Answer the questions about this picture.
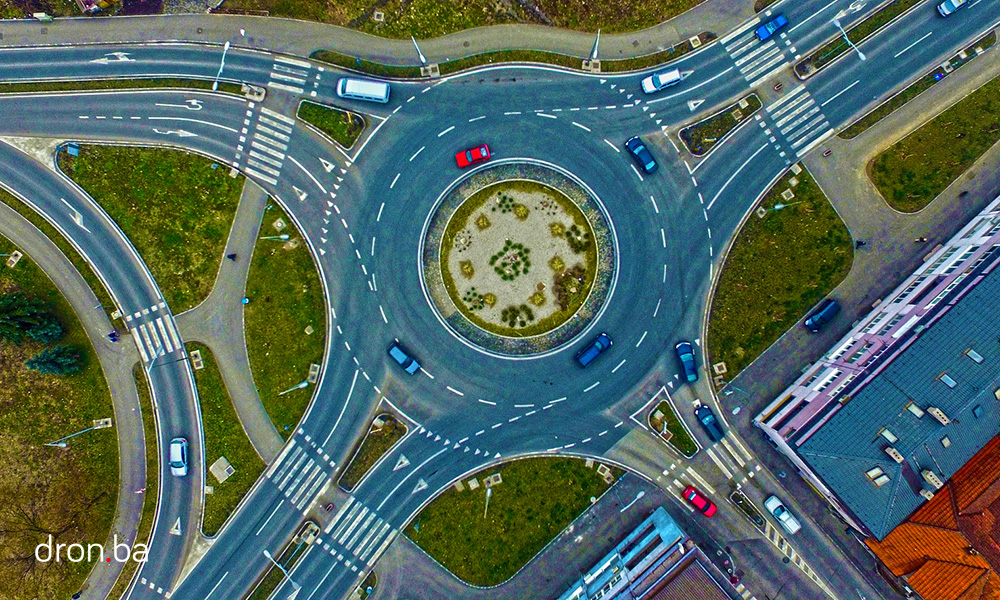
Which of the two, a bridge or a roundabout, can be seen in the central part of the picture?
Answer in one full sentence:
It is a roundabout that can be seen in the central part of the picture.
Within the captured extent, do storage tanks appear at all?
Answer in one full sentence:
No, there appears to be no storage tank in this shot.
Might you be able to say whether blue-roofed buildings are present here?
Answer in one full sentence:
Yes, the image includes a blue-roofed building.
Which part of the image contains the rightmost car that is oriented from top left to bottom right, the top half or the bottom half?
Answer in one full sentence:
You can find the rightmost car that is oriented from top left to bottom right in the bottom half.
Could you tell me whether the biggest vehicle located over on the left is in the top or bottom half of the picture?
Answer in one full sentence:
The top half of the photo is where the biggest vehicle located over on the left is.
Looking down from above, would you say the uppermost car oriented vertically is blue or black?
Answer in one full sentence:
In this view, the uppermost car oriented vertically is blue.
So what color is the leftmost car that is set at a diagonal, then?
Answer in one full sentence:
From above, the leftmost car that is set at a diagonal appears blue.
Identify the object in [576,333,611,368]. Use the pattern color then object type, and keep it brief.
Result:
blue car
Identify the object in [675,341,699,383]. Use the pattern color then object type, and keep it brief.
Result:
blue car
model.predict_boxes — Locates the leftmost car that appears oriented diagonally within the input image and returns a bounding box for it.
[387,342,421,374]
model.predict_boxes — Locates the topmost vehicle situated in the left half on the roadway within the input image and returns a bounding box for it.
[336,76,393,104]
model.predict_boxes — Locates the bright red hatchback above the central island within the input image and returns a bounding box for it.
[456,145,490,168]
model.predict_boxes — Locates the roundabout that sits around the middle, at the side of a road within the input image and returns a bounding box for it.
[306,64,756,483]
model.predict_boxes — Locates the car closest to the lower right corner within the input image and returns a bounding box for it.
[763,493,803,537]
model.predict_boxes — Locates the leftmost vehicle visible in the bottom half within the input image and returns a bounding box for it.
[168,436,190,476]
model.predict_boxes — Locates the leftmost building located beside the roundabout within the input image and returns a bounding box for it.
[559,507,756,600]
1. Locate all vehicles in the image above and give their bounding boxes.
[681,484,718,518]
[763,493,803,537]
[168,436,190,476]
[387,342,421,374]
[336,76,393,104]
[456,145,490,168]
[754,11,790,41]
[641,67,683,96]
[625,136,659,175]
[576,333,611,368]
[935,0,974,19]
[675,341,699,383]
[694,404,726,443]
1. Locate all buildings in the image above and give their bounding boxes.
[760,196,1000,540]
[559,507,756,600]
